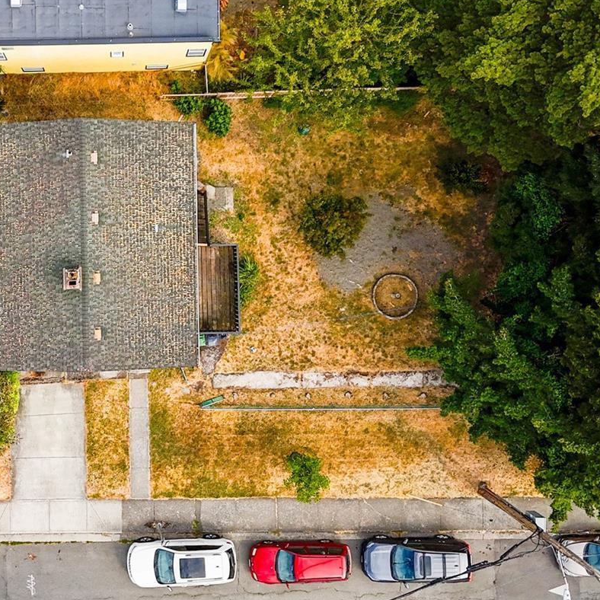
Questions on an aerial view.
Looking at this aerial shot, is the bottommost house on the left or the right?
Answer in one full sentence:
The bottommost house is on the left side of the image.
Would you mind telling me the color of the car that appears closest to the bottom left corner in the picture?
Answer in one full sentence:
From above, the car that appears closest to the bottom left corner appears white.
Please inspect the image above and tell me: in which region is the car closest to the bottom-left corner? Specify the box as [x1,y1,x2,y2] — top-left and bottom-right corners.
[127,535,233,590]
